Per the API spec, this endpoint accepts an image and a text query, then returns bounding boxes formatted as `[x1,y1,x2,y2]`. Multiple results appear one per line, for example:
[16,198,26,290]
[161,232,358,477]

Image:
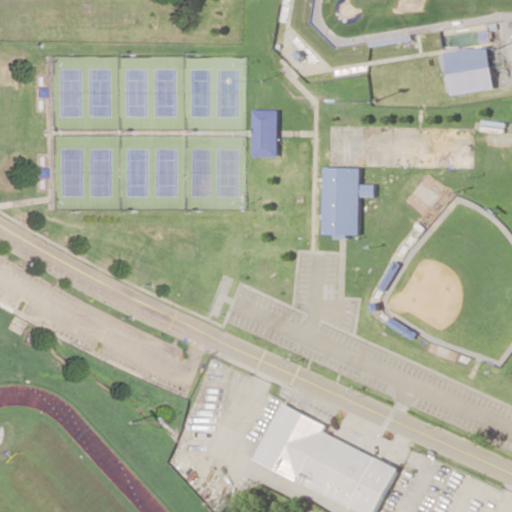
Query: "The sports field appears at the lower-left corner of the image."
[0,405,138,512]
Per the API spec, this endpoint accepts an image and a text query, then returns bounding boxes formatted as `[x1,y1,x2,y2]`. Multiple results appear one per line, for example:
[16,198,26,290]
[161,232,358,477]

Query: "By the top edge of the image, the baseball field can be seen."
[311,0,512,48]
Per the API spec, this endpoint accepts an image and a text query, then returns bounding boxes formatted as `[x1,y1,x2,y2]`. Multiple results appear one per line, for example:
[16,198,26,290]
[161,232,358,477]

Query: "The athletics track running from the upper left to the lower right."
[0,384,167,512]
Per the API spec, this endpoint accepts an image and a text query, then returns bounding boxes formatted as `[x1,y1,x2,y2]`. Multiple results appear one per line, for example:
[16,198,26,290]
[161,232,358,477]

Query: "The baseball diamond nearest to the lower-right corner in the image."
[384,197,512,364]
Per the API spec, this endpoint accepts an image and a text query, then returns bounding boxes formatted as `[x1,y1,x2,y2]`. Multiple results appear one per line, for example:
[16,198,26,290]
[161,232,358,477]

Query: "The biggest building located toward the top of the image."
[318,167,374,240]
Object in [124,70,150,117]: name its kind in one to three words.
tennis court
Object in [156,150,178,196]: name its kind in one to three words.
tennis court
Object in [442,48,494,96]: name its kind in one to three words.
barn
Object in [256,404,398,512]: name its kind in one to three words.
building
